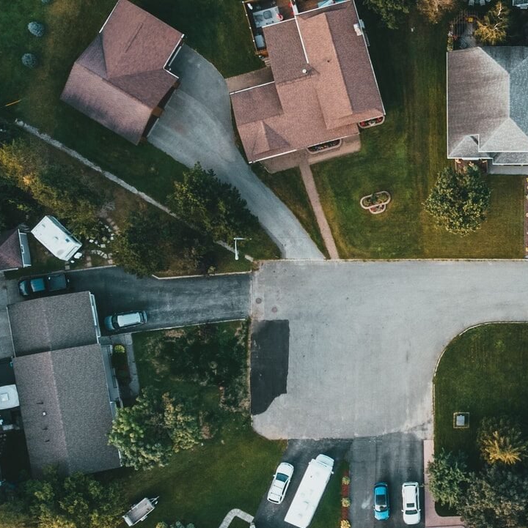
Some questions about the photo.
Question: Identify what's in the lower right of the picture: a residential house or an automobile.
automobile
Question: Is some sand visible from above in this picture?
No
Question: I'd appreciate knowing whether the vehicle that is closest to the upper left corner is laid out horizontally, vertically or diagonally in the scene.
diagonally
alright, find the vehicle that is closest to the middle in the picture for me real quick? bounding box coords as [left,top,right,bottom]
[104,310,149,332]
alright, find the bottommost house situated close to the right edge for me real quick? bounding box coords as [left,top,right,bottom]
[447,46,528,165]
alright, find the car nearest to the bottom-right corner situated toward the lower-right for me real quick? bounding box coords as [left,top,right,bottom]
[401,482,420,525]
